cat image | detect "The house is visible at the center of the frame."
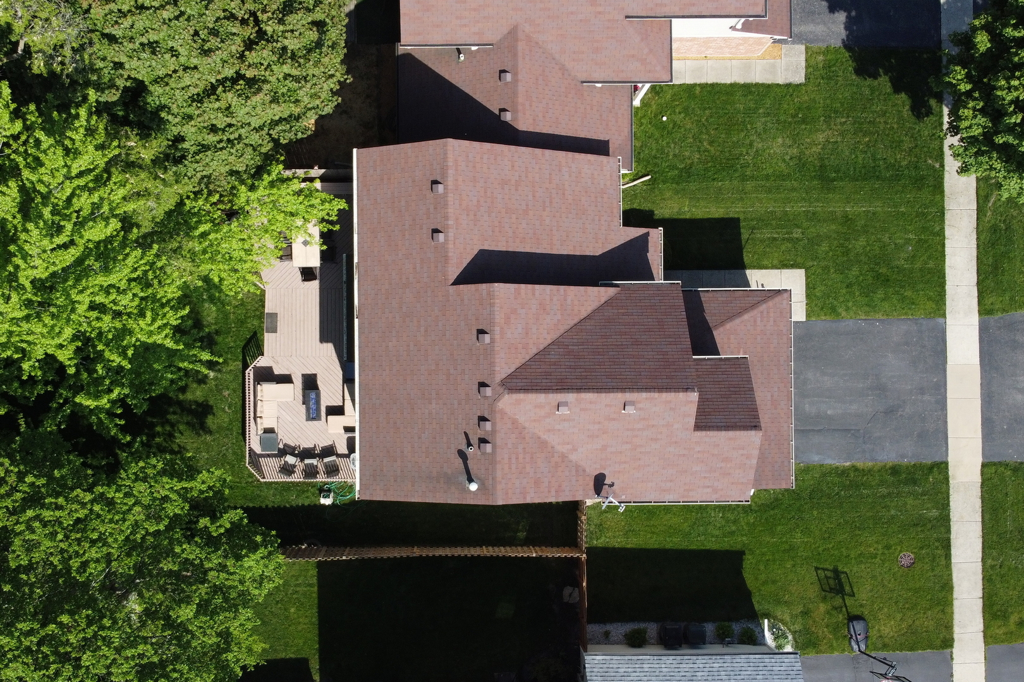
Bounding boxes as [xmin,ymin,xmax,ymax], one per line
[347,139,795,505]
